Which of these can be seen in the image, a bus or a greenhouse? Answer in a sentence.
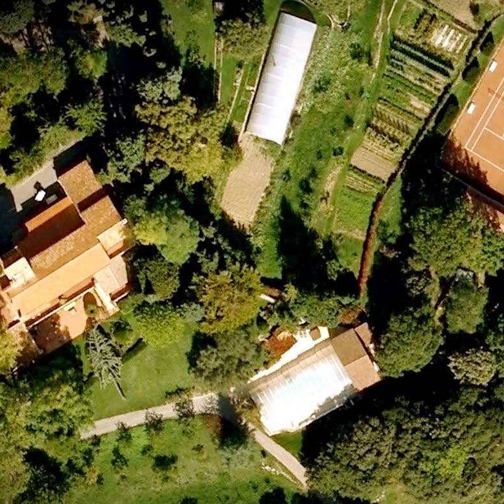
Of the two, only a greenhouse appears.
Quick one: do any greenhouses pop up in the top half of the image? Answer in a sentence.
Yes, the scene does show a greenhouse in the top half of the image.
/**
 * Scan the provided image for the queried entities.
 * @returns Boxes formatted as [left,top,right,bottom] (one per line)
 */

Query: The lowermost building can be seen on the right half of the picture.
[247,323,381,436]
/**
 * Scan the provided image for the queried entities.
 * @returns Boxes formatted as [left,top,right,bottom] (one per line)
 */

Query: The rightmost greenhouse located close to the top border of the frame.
[244,11,319,144]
